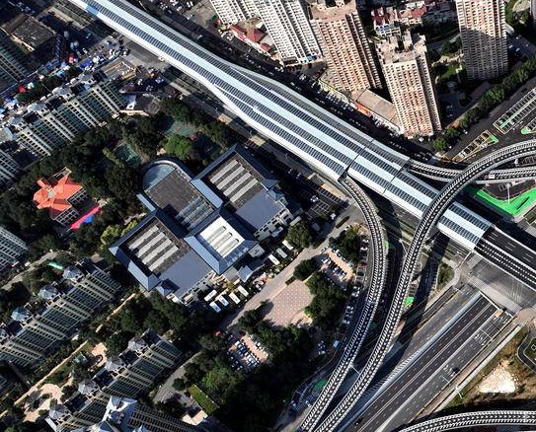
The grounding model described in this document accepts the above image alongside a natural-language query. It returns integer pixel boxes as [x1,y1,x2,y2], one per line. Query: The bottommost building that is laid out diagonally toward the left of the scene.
[56,322,181,424]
